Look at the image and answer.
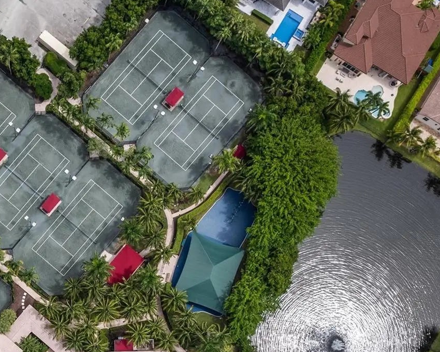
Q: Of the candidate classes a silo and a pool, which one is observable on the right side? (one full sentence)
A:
You can see a pool on the right side.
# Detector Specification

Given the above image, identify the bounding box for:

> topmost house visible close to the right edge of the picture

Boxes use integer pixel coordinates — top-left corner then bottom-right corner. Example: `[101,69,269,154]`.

[331,0,440,85]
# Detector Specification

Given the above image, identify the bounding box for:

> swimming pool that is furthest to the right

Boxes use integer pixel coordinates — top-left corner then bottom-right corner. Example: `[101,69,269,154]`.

[352,84,391,120]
